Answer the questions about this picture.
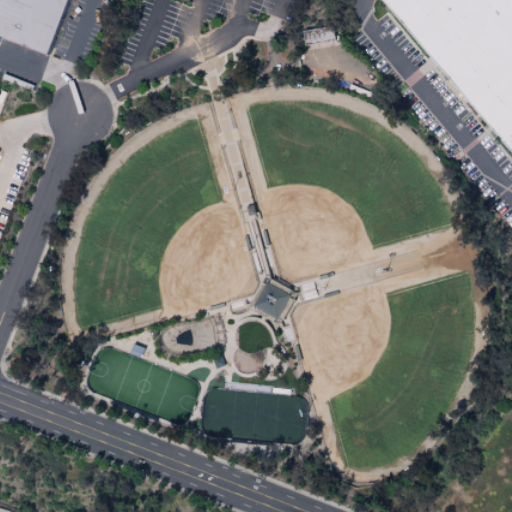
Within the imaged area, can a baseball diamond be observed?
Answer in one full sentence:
Yes, there's a baseball diamond here.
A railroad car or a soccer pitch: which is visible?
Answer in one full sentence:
This aerial view contains a soccer pitch.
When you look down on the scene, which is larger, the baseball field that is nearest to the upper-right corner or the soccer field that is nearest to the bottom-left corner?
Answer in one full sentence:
The baseball field takes up more space than the soccer field does.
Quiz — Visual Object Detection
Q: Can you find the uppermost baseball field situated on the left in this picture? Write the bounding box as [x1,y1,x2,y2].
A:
[74,119,259,328]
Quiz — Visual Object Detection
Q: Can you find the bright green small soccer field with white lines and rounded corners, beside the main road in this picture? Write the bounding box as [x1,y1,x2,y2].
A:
[87,346,199,426]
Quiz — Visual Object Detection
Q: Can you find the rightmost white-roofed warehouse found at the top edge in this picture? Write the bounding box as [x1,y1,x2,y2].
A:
[382,0,512,150]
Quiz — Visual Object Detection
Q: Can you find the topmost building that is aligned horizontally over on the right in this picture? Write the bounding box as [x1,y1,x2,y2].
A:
[304,27,338,44]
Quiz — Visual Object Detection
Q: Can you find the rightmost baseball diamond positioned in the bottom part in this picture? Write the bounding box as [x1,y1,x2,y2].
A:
[298,271,475,470]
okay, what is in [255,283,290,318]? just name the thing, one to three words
building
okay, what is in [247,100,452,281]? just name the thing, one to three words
baseball field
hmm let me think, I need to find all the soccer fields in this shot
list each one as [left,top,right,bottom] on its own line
[202,389,308,444]
[87,346,199,426]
